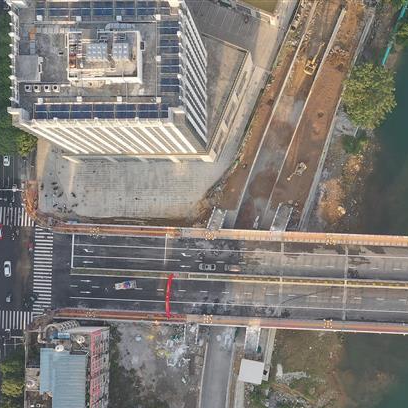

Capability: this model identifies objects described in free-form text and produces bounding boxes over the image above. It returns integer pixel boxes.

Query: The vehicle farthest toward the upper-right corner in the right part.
[303,47,321,73]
